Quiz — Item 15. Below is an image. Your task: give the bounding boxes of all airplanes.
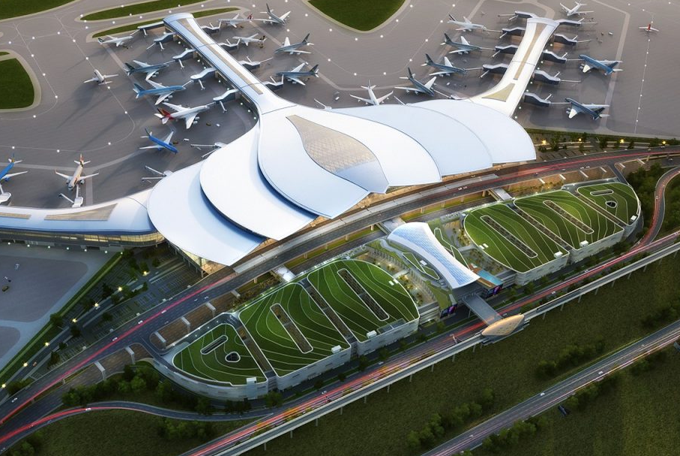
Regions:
[98,35,133,47]
[158,102,208,126]
[275,37,311,55]
[233,33,266,46]
[442,35,480,53]
[259,6,291,26]
[126,60,169,79]
[560,0,593,18]
[221,15,253,27]
[0,158,22,182]
[399,69,437,97]
[424,54,465,74]
[348,78,395,105]
[89,72,116,84]
[135,80,184,104]
[448,15,486,32]
[637,17,663,34]
[143,131,178,154]
[58,158,98,191]
[580,56,616,72]
[278,63,318,82]
[566,99,607,117]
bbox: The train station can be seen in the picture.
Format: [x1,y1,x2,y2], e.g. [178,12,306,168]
[479,312,531,343]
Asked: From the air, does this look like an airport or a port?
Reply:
airport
